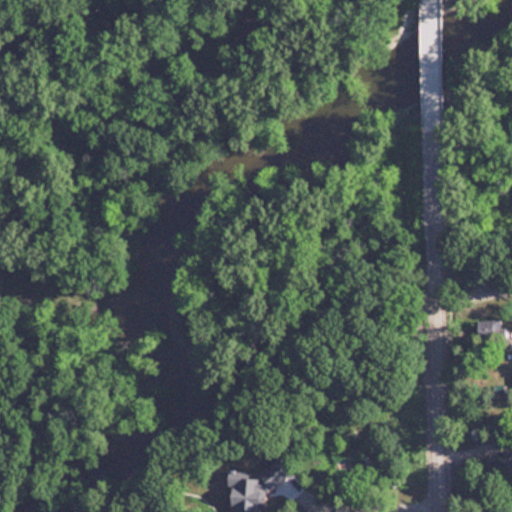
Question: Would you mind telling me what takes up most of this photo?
trees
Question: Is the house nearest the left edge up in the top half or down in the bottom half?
bottom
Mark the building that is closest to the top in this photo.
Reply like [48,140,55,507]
[478,320,503,334]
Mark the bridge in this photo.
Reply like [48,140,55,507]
[419,0,444,131]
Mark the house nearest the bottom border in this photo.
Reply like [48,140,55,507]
[228,471,270,512]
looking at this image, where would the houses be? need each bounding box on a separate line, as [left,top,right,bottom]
[478,320,503,334]
[228,471,270,512]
